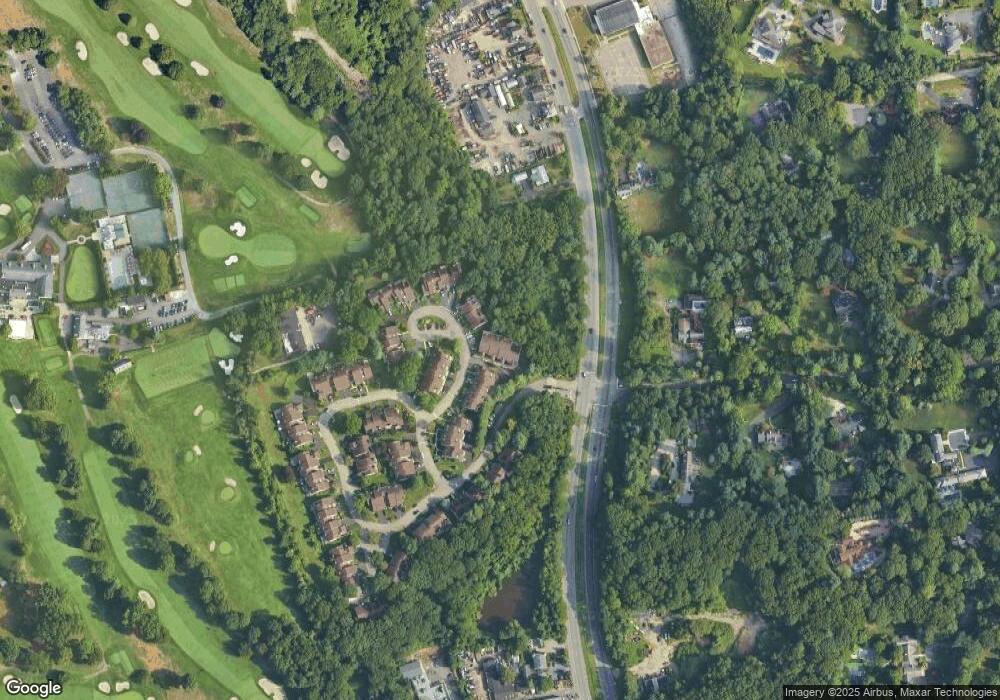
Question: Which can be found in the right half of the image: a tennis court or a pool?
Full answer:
The feature located in the right half of the image is a pool.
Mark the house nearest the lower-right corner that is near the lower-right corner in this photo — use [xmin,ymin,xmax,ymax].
[899,638,925,690]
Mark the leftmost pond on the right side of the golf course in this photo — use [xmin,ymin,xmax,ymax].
[482,552,546,628]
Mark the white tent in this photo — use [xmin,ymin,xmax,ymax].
[8,319,27,337]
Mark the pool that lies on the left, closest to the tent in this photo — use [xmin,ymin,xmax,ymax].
[103,246,141,293]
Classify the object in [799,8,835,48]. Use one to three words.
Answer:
house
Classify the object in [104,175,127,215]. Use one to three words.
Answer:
tennis court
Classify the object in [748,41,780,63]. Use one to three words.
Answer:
swimming pool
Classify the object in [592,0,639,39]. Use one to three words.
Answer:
building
